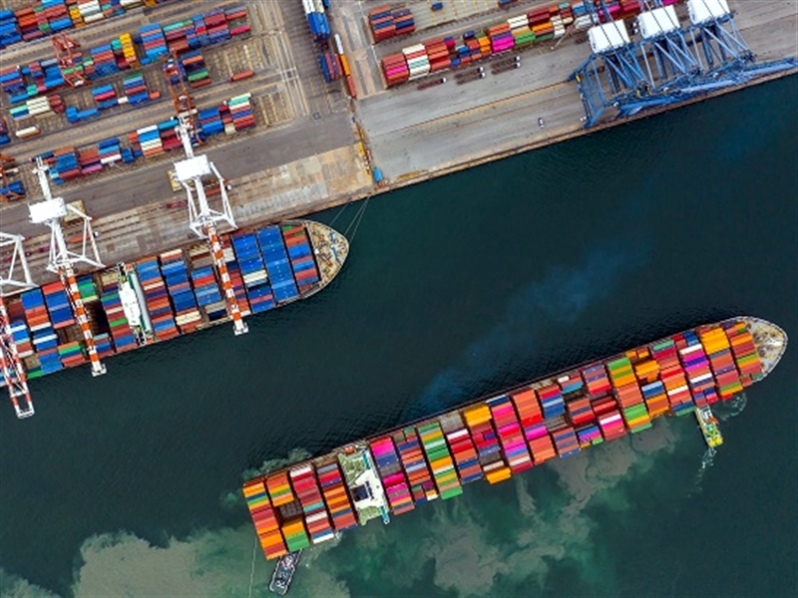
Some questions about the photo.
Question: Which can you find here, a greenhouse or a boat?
boat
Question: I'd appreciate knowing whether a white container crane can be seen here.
Yes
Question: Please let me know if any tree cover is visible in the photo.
No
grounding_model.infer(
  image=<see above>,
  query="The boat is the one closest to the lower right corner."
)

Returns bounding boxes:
[701,407,725,450]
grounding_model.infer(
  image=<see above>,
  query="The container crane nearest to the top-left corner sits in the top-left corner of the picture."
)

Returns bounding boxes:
[52,28,97,96]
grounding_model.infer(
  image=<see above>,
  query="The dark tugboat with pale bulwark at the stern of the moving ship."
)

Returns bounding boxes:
[273,553,298,598]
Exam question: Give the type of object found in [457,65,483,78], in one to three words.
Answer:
vehicle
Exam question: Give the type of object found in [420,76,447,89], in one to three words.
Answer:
vehicle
